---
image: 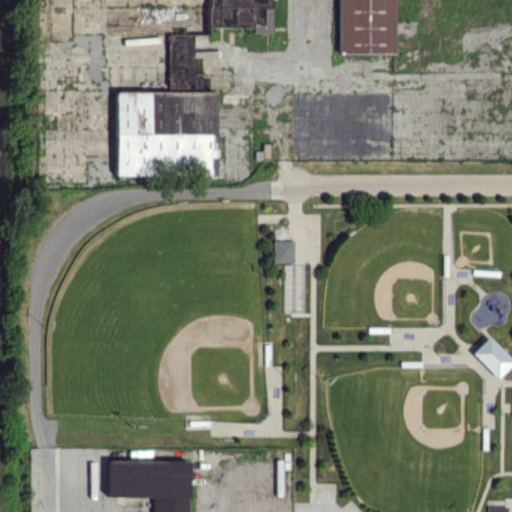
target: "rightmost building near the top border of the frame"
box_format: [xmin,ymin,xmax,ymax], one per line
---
[340,0,398,57]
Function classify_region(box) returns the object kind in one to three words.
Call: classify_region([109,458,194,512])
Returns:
building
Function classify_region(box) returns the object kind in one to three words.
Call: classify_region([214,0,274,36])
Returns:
building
